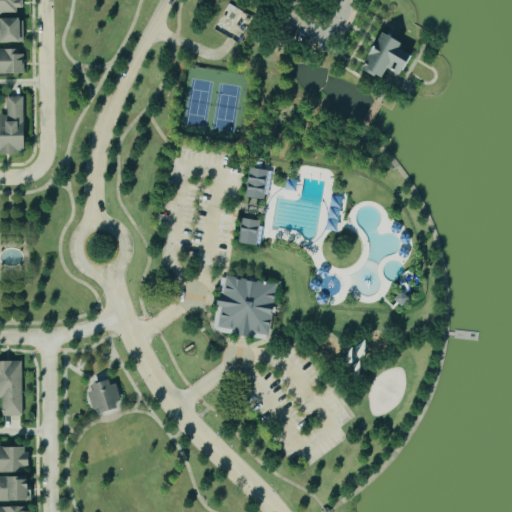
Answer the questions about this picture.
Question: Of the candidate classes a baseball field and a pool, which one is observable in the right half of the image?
pool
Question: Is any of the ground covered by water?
Yes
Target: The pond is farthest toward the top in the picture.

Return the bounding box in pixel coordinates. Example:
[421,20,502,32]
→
[297,64,374,116]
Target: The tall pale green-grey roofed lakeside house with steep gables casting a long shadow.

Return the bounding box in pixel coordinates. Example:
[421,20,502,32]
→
[362,31,412,76]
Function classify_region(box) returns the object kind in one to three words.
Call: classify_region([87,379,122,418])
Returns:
house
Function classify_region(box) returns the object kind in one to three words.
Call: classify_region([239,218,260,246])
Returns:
building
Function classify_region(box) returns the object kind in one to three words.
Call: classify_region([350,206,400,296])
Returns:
swimming pool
